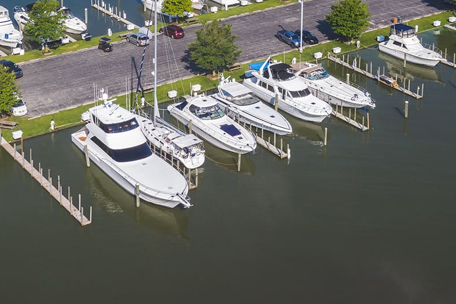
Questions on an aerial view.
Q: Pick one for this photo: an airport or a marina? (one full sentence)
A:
This looks like a marina.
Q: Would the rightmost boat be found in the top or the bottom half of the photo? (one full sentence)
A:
You can find the rightmost boat in the top half.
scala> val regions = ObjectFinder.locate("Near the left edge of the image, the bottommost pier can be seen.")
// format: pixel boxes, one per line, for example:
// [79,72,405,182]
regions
[0,124,93,229]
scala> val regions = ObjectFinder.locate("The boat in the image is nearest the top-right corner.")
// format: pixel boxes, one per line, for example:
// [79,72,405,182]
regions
[374,25,444,69]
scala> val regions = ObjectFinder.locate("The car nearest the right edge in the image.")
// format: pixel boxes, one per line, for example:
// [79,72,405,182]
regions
[294,27,322,42]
